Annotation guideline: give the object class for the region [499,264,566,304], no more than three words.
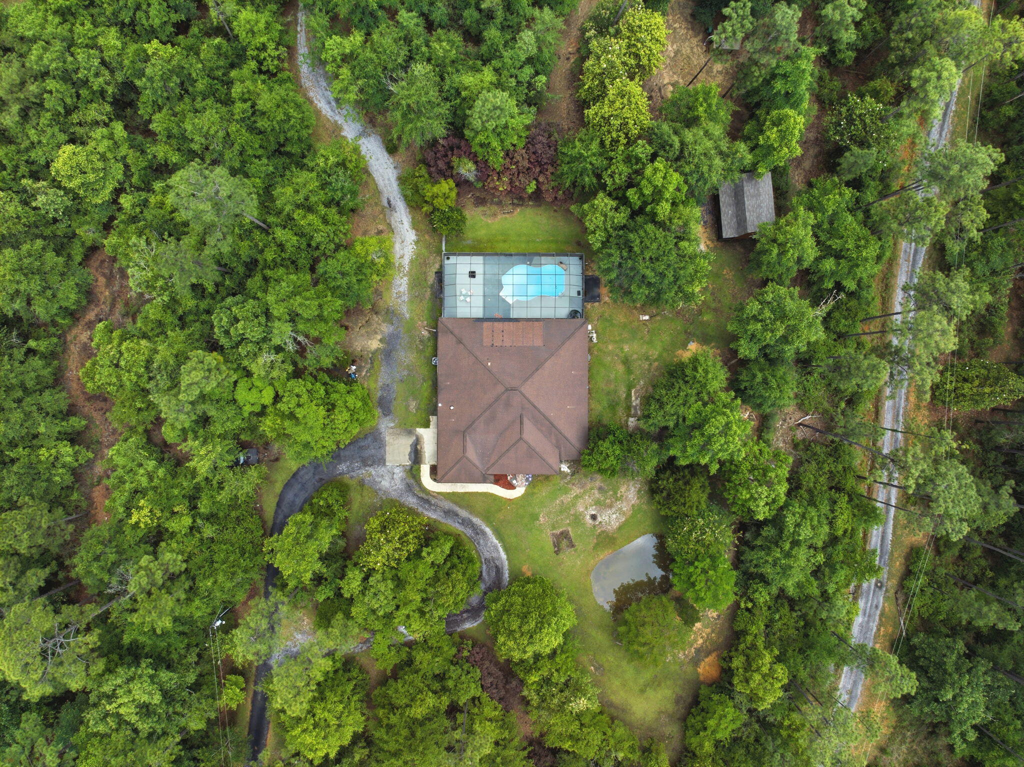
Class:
swimming pool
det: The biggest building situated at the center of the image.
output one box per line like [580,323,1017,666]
[437,318,589,484]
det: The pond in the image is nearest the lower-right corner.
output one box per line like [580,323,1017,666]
[589,532,678,614]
